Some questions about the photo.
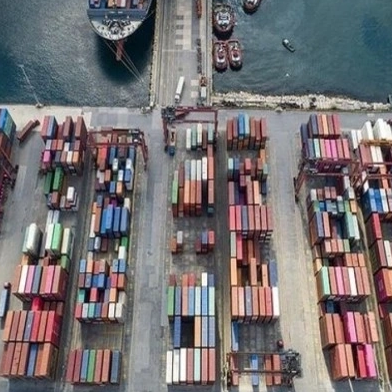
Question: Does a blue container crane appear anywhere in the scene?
No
